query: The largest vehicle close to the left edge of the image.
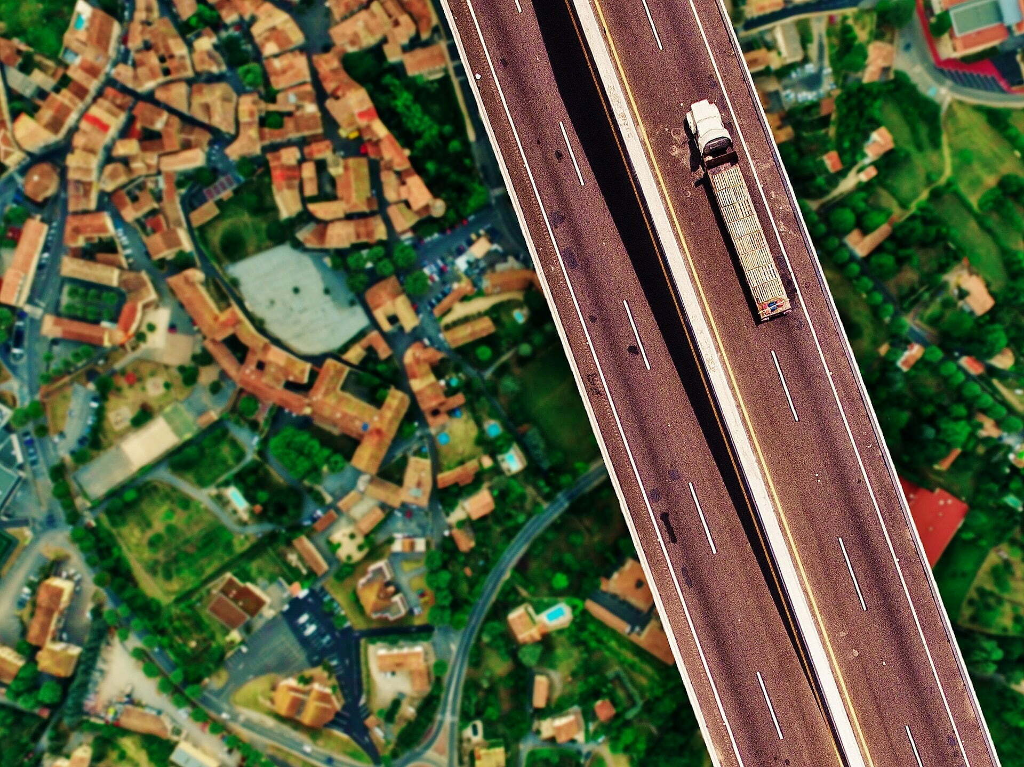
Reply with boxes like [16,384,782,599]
[14,324,27,350]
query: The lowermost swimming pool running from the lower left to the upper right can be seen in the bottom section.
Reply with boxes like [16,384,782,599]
[544,605,567,623]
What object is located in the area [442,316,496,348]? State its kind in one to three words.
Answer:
house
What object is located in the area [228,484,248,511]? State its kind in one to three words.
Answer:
swimming pool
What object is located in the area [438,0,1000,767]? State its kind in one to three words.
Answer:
bridge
